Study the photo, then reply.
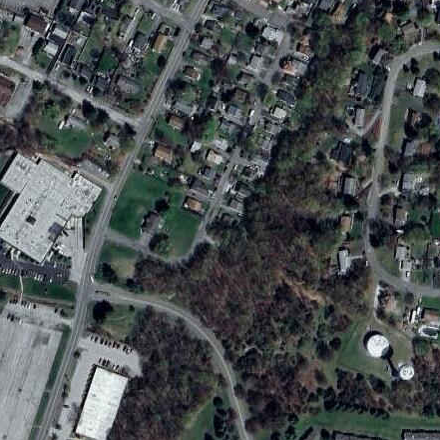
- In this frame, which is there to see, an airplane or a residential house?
residential house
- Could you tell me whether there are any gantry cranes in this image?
No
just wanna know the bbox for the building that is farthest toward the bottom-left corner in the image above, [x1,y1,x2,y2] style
[74,365,128,440]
